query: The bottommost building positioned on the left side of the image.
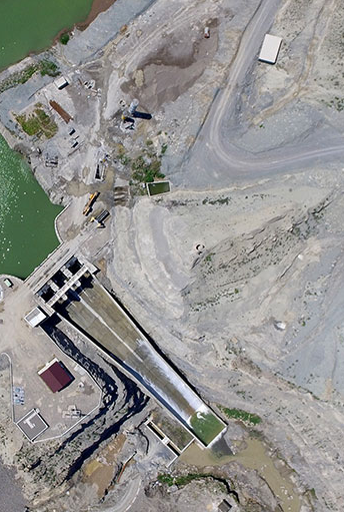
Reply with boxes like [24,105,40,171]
[17,406,48,441]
